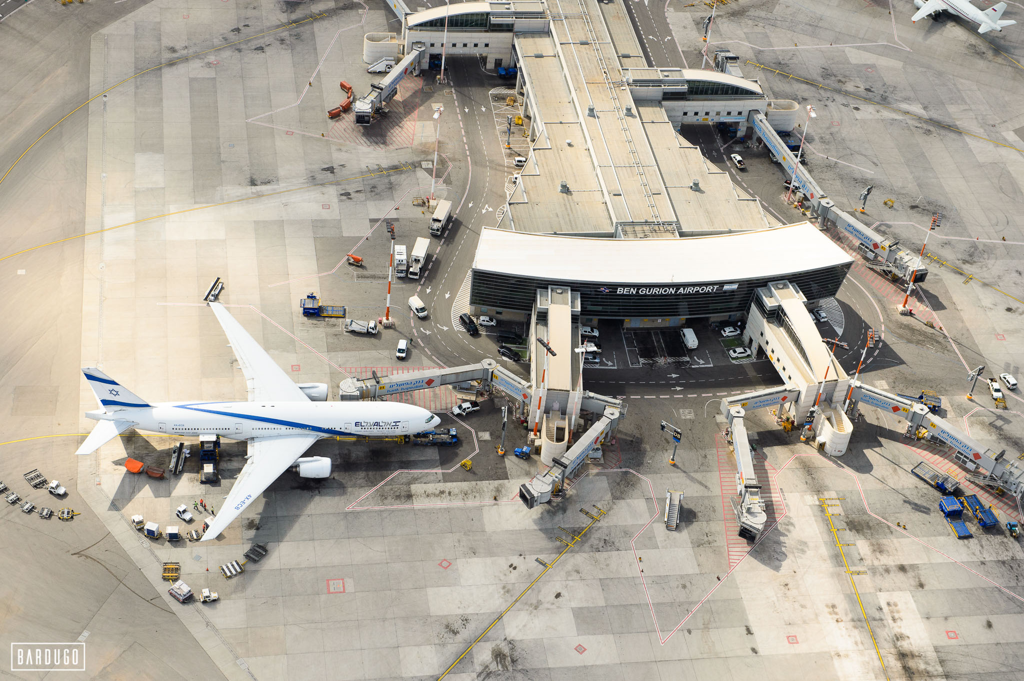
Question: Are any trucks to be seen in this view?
Yes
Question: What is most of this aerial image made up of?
paved ground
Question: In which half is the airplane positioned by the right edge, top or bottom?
top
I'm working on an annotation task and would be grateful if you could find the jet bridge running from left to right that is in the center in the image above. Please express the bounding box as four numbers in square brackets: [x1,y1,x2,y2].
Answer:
[340,359,534,418]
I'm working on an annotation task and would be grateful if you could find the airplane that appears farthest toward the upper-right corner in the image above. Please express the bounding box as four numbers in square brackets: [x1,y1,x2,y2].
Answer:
[915,0,1015,34]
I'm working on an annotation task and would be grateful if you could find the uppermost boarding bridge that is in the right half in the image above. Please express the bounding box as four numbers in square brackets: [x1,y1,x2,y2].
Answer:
[701,48,744,78]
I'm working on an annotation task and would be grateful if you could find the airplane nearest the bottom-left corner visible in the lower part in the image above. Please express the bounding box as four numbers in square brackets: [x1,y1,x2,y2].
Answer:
[77,302,439,541]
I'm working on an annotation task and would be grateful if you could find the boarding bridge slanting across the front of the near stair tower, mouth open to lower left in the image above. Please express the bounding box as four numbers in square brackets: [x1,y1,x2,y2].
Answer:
[518,395,622,511]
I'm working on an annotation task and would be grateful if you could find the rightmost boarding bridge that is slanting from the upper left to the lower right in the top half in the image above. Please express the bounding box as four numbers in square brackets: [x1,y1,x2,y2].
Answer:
[743,116,927,286]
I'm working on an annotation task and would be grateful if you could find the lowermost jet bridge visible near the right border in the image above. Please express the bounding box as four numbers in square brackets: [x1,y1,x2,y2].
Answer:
[847,382,1024,504]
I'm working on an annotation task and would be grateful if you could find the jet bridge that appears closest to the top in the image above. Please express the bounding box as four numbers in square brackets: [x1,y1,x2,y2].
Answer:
[380,0,409,38]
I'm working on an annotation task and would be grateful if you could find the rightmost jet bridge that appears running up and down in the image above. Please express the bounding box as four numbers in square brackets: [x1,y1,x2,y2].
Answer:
[723,384,805,543]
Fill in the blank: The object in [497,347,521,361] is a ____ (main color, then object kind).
black car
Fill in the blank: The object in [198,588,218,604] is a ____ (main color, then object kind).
white work vehicle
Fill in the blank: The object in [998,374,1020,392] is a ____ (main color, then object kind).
white vehicle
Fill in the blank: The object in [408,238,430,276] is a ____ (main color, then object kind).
white truck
